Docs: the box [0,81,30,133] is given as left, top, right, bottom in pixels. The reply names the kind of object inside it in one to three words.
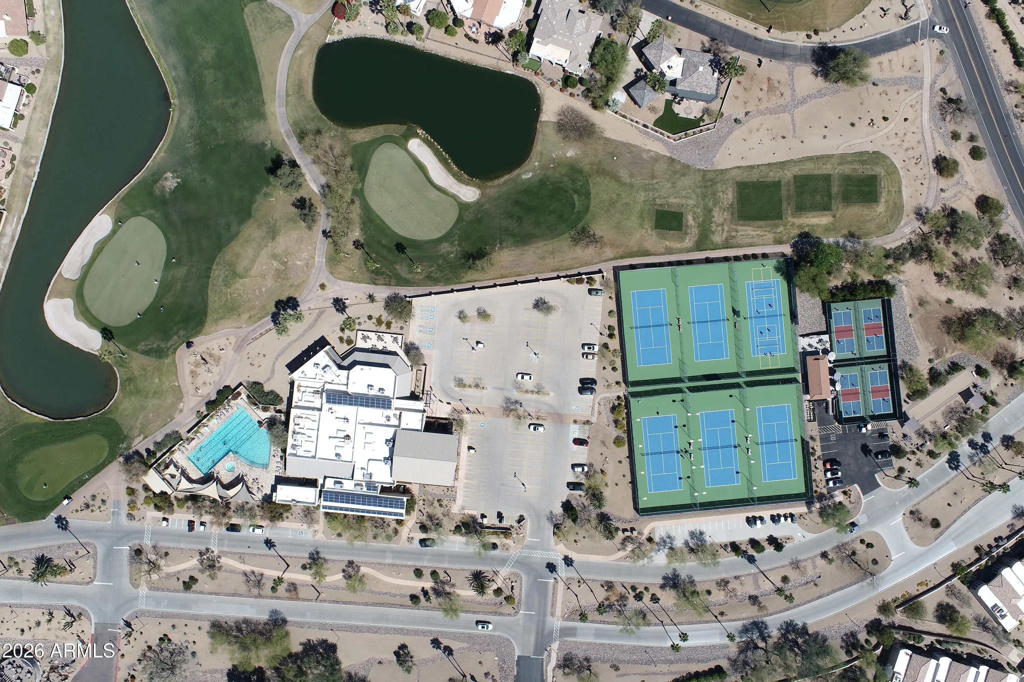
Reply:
house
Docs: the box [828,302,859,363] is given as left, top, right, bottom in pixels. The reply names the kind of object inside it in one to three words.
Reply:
sports court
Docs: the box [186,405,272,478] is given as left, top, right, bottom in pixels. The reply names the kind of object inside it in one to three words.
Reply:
swimming pool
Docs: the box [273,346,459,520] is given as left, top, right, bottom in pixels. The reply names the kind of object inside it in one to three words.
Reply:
building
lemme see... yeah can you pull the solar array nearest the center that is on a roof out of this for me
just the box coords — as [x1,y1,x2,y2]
[325,394,392,409]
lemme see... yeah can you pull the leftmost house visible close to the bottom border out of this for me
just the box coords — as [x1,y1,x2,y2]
[881,641,938,682]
